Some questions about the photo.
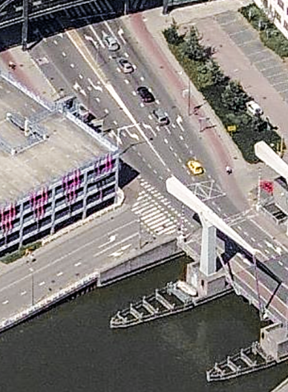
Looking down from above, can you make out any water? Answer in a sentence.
Yes, water can be seen from above here.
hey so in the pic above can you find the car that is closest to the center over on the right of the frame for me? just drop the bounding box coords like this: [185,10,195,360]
[188,160,203,175]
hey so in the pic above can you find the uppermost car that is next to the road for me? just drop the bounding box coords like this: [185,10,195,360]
[103,36,118,51]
